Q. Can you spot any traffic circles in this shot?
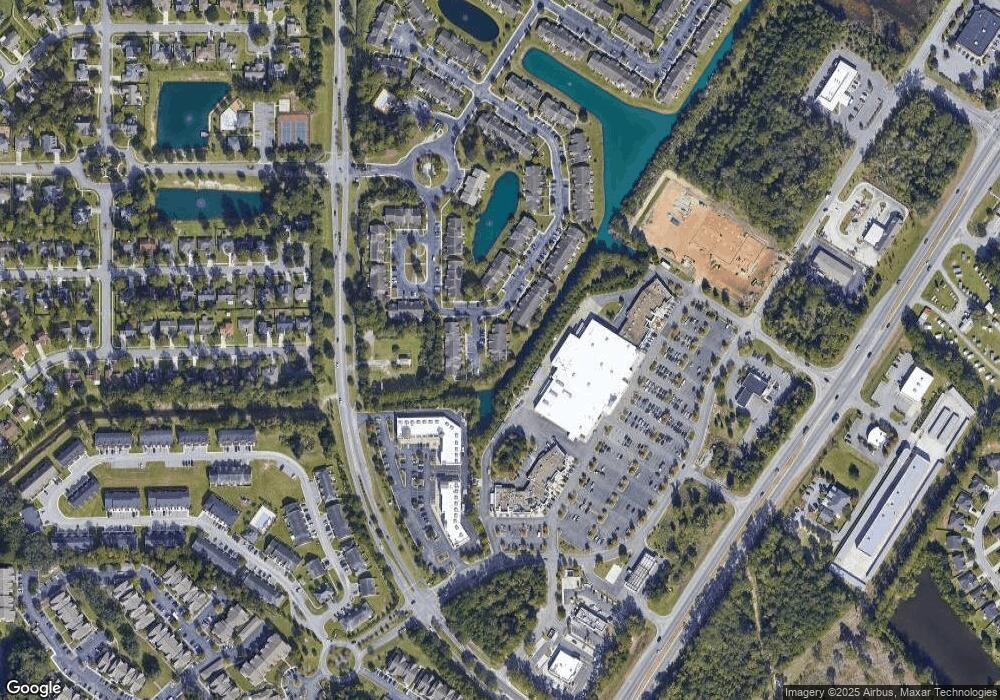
Yes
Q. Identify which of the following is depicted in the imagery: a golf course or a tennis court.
tennis court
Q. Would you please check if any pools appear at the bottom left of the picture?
Yes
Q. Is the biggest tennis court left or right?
left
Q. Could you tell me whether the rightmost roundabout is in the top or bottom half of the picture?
top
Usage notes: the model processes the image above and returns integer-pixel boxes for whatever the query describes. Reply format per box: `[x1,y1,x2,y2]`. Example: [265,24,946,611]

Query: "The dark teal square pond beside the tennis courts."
[156,80,233,148]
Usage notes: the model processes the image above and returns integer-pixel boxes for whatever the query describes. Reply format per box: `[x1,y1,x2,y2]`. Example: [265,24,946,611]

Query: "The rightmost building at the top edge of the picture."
[959,7,1000,57]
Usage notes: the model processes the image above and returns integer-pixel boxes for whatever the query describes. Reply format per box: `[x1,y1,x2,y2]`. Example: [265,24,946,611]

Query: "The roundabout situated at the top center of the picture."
[404,143,457,195]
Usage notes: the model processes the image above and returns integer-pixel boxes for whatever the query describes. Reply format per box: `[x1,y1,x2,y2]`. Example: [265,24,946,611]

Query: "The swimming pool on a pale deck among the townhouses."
[251,507,274,531]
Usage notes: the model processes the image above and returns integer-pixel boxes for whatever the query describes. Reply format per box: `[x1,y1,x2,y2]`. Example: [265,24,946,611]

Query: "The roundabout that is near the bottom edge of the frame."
[321,639,362,680]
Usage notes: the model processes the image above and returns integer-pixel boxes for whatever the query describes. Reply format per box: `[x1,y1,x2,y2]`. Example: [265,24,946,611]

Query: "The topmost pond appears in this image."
[438,0,498,42]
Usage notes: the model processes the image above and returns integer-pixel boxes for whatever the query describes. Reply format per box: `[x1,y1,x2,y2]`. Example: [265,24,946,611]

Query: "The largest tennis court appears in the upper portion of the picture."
[278,112,310,145]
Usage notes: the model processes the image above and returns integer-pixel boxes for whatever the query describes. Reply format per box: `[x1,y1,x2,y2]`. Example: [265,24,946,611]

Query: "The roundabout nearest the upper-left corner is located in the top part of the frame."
[74,137,136,190]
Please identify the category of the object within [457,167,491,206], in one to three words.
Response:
building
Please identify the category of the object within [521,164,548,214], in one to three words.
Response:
building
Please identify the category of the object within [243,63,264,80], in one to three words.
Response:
house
